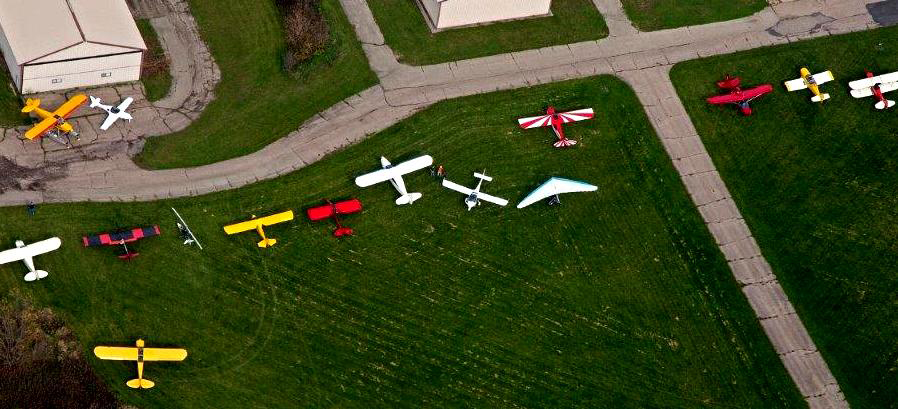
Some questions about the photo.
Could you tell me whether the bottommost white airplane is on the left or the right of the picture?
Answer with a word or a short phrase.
left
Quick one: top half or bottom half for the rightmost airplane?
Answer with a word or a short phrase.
top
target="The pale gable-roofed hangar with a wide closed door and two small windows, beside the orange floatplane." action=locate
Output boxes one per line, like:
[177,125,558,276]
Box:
[0,0,148,94]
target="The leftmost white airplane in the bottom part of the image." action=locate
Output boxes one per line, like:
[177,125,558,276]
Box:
[0,239,61,279]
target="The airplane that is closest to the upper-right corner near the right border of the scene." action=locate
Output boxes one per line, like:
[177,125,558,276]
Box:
[848,72,898,108]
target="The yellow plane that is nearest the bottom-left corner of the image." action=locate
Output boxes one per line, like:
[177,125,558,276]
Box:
[95,338,187,389]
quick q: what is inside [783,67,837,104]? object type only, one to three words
airplane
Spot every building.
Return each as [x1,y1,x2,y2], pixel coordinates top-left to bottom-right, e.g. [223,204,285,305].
[0,0,148,94]
[415,0,556,32]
